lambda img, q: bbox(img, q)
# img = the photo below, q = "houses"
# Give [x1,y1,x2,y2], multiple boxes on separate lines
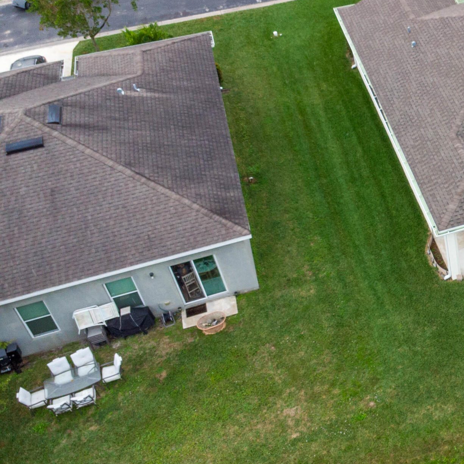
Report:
[0,30,259,356]
[334,0,464,285]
